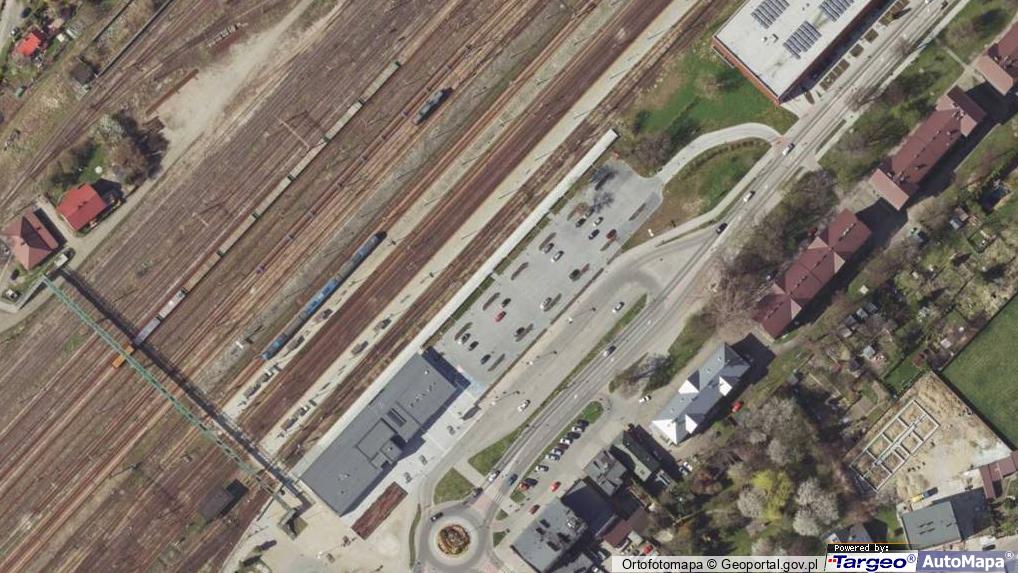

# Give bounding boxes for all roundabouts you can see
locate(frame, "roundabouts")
[416,501,492,573]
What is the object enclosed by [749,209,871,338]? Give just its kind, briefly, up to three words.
building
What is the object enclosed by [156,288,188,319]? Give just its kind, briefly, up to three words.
rail car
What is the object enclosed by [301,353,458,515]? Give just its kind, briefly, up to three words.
train station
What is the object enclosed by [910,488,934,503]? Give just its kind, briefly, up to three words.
vehicle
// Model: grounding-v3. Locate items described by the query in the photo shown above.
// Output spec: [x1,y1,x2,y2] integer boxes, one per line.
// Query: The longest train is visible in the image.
[261,232,388,359]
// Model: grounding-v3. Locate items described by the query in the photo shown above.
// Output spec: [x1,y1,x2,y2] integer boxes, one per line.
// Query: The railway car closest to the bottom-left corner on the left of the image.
[110,343,137,369]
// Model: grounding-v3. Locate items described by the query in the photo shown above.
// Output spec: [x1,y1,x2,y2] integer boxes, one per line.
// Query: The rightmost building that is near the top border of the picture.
[968,19,1018,96]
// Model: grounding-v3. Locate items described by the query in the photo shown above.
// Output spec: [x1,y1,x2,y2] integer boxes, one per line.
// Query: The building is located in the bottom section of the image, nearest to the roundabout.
[510,493,588,573]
